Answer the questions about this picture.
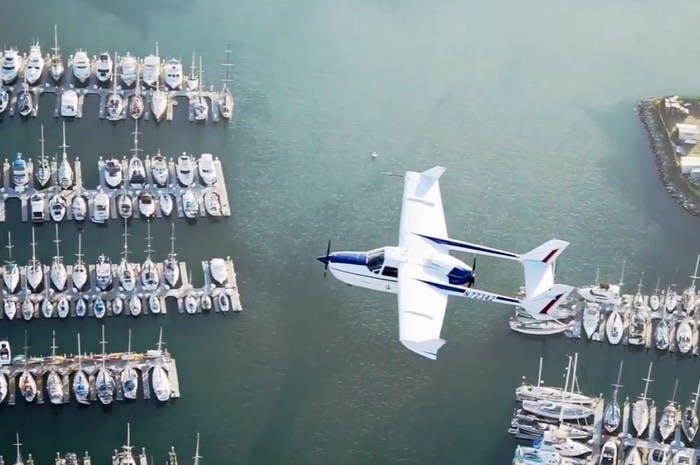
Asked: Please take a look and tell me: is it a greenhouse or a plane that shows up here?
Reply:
plane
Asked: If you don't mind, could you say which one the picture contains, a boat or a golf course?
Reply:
boat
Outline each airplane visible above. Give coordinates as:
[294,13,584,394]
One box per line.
[318,167,574,358]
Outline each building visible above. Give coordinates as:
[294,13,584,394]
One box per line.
[681,155,700,174]
[677,120,700,143]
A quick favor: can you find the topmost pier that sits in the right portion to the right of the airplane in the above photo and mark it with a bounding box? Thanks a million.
[563,290,700,356]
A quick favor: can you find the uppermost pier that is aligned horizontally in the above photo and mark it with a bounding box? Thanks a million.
[0,55,221,123]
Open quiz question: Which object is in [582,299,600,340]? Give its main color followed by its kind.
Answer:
white boat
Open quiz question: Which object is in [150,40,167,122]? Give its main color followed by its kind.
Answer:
white boat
